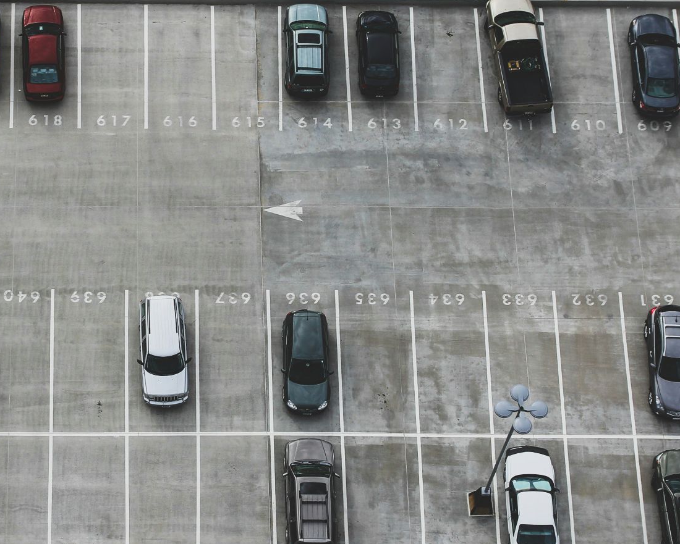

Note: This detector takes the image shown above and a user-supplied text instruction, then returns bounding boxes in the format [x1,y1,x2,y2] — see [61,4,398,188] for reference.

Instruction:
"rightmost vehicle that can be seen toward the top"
[628,15,680,113]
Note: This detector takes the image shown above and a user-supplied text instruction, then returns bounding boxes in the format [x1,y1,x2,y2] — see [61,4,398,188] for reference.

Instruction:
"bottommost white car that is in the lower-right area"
[503,447,561,544]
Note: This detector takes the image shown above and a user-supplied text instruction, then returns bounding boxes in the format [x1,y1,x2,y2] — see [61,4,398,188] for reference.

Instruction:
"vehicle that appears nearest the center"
[278,307,336,417]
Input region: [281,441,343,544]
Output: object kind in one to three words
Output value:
car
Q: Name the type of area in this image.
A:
parking lot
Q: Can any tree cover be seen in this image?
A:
No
